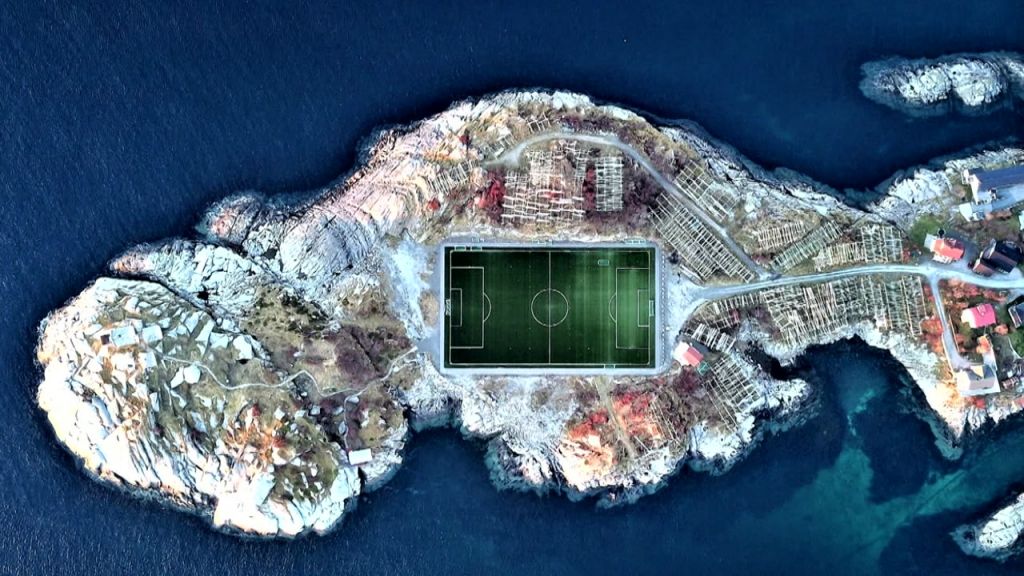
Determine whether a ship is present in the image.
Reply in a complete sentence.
No, the picture doesn't show any ship.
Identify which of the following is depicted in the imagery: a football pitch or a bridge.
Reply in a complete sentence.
I can see a football pitch in this picture.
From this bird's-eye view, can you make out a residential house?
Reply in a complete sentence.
Yes, a residential house can be made out from above.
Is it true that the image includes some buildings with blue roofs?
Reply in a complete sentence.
Yes, a building with a blue roof appears in the view.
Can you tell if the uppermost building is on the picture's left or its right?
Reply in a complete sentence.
It is on the right.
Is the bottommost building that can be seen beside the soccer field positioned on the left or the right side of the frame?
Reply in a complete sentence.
You can find the bottommost building that can be seen beside the soccer field on the right side of the picture.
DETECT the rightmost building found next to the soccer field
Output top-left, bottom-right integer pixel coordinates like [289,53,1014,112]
[669,336,705,367]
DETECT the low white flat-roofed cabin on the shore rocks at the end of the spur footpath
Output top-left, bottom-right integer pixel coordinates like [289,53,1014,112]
[349,448,373,465]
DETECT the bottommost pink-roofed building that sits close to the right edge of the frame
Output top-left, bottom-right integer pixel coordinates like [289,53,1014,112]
[960,303,997,328]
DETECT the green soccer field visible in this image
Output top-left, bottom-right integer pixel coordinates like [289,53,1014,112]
[421,236,671,377]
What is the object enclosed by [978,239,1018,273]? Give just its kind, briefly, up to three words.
house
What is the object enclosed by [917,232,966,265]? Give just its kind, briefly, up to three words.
house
